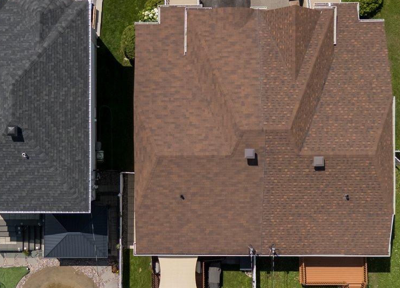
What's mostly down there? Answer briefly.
buildings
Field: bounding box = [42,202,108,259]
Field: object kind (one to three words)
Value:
gazebo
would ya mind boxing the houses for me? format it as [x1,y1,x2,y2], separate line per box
[0,0,106,212]
[131,3,396,260]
